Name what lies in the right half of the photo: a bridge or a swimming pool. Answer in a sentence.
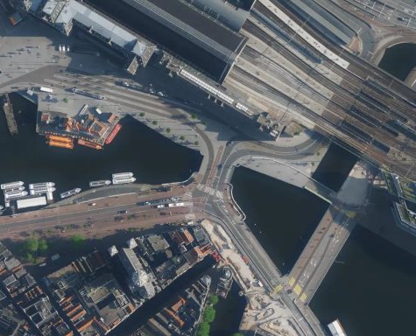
What appears in the right half of the photo is a bridge.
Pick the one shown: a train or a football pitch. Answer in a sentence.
Visible in the photo is a train.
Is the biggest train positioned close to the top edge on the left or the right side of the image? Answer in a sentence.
The biggest train positioned close to the top edge is on the right side of the image.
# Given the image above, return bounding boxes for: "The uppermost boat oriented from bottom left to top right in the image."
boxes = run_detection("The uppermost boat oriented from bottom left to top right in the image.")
[106,124,123,143]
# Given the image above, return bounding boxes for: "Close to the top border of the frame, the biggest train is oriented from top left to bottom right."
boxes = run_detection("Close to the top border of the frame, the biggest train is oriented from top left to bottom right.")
[253,12,321,61]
